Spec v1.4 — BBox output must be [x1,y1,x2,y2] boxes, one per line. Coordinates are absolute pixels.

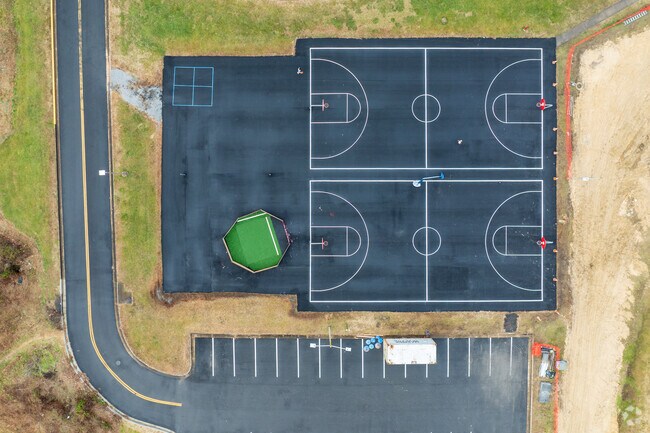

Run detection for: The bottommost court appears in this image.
[310,180,543,302]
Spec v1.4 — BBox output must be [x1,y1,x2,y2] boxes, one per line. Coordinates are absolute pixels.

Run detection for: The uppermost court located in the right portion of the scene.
[310,48,543,169]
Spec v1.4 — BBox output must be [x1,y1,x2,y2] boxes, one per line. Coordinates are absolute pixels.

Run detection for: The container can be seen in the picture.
[384,337,437,364]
